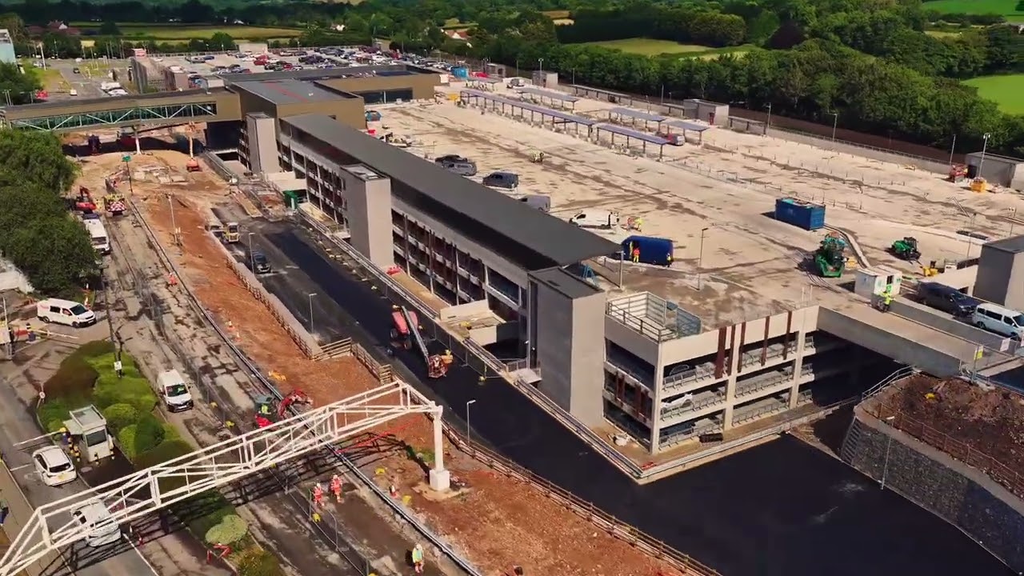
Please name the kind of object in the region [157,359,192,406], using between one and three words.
van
